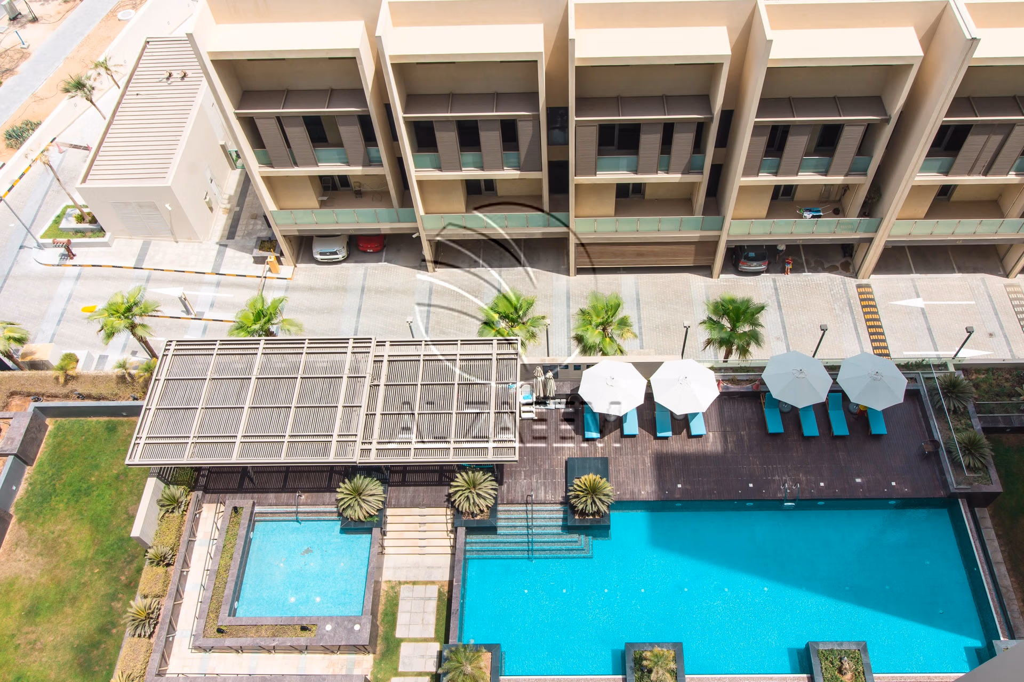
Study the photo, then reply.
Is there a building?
Yes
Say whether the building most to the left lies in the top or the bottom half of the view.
top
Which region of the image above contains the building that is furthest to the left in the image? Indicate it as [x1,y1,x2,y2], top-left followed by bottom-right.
[77,35,233,242]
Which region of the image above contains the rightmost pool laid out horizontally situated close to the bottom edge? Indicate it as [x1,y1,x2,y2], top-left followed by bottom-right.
[447,497,1011,682]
